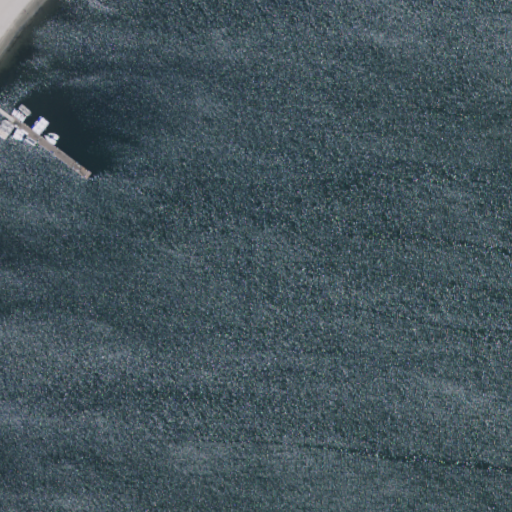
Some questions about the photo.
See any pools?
No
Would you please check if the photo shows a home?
No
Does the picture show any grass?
No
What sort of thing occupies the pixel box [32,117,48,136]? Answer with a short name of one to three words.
boat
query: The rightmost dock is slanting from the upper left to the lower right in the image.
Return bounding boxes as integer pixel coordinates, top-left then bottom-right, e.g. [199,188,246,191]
[10,117,92,179]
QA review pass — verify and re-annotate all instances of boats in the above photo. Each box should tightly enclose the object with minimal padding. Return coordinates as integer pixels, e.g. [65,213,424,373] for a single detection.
[42,135,57,146]
[48,131,59,140]
[12,130,25,142]
[25,137,37,146]
[0,119,14,132]
[18,104,32,116]
[0,126,10,139]
[12,110,26,122]
[32,117,48,136]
